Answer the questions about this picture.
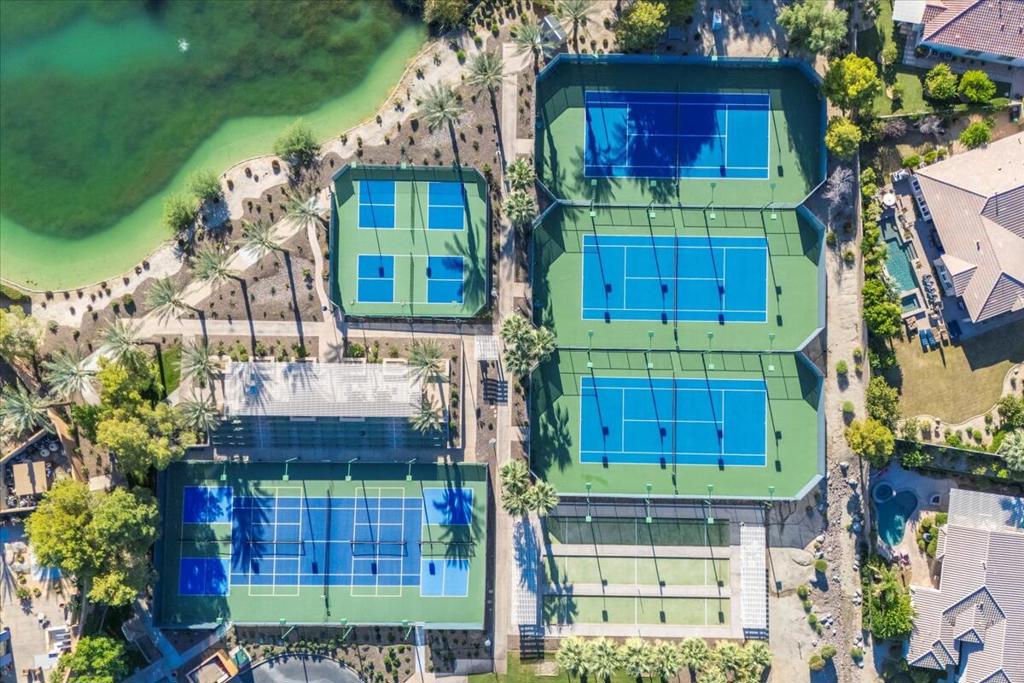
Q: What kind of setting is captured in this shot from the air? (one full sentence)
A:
This looks like a sports ground.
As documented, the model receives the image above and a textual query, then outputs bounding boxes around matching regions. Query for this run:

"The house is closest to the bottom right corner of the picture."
[904,525,1024,683]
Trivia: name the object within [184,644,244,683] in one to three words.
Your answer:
shed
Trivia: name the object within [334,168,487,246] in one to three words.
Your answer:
sports court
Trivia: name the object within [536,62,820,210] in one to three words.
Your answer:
tennis court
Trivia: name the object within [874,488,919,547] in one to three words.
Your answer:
swimming pool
